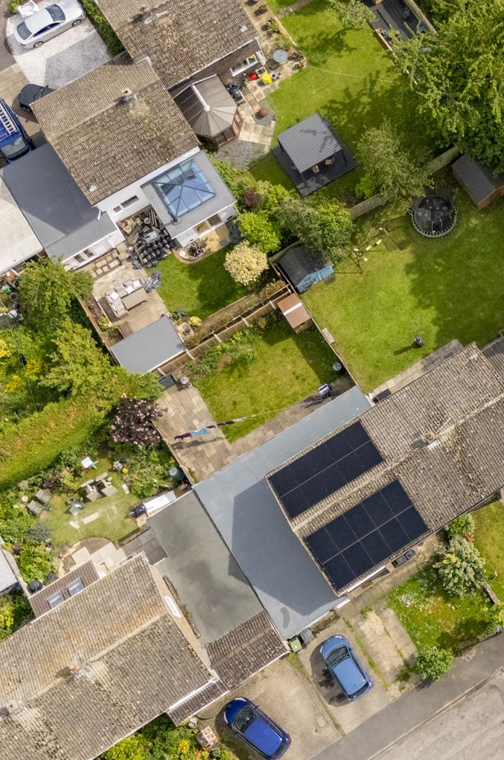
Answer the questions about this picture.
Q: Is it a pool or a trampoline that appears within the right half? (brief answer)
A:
trampoline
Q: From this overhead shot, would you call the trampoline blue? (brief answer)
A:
No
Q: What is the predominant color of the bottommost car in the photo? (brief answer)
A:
blue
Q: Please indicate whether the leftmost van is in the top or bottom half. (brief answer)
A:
top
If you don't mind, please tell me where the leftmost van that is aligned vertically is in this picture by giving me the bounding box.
[0,95,32,166]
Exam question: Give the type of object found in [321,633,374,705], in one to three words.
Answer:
car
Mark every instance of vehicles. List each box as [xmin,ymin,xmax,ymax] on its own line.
[0,95,32,166]
[321,633,374,705]
[227,695,292,760]
[13,5,89,53]
[19,76,65,112]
